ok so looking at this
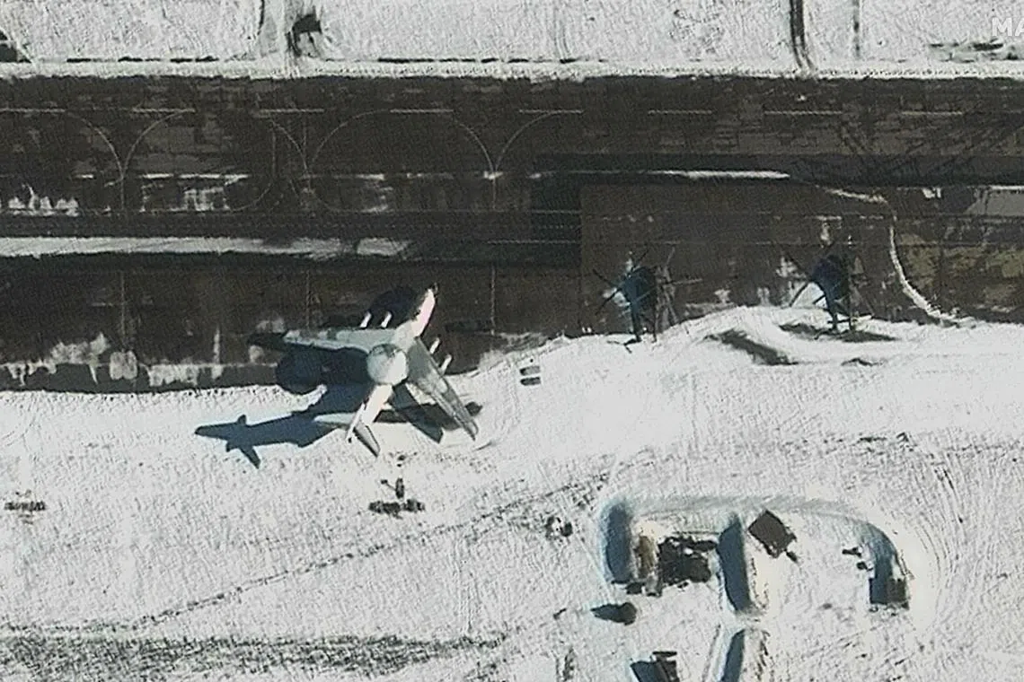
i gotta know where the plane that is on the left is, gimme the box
[281,281,480,462]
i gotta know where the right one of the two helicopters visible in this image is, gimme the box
[815,230,895,332]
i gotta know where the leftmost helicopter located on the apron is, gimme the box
[626,242,707,344]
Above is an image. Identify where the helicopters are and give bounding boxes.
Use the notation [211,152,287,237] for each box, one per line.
[815,230,895,332]
[626,242,707,344]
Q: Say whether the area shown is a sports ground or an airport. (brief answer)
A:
airport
